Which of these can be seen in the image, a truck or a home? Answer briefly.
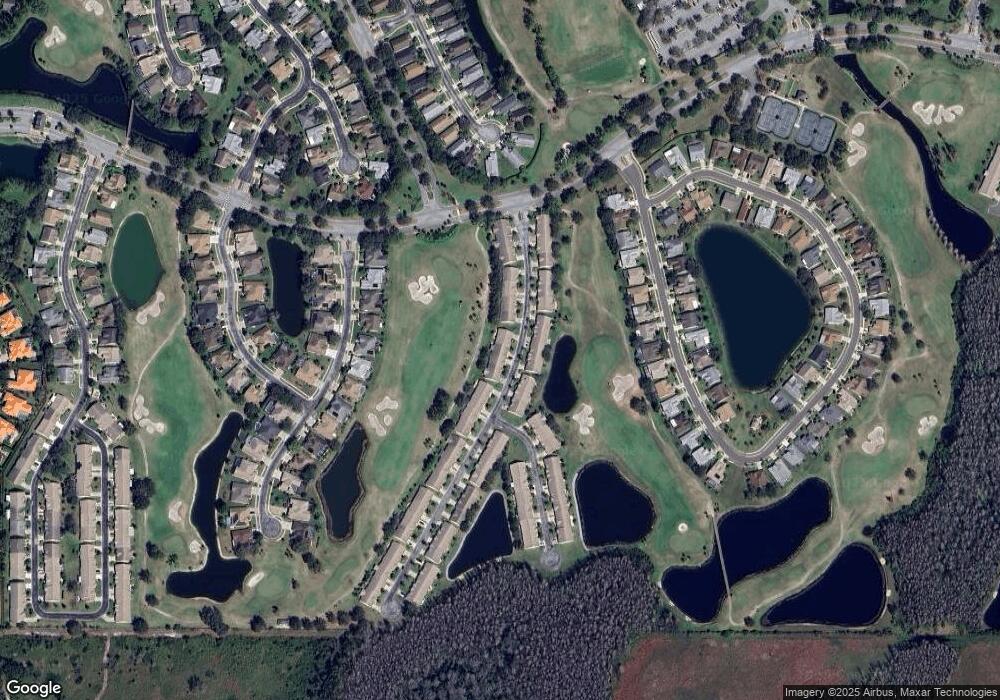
home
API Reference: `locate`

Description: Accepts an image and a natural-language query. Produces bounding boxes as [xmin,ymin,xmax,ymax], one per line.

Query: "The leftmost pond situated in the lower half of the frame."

[167,412,252,601]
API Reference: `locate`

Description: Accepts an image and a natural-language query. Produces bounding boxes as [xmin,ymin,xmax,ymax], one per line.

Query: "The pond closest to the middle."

[544,335,577,413]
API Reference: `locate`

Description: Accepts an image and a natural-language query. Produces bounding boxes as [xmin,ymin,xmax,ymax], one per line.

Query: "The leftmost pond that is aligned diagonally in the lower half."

[448,492,514,579]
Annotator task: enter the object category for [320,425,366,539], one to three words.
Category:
pond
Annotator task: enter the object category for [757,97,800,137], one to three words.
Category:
tennis court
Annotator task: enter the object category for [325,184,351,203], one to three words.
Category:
house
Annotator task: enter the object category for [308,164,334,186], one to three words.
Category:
house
